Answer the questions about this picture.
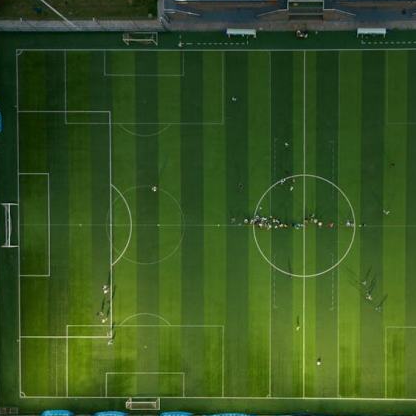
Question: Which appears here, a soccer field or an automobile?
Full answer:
Visible in the photo is a soccer field.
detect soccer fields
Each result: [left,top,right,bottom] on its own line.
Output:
[0,29,416,416]
[20,49,281,398]
[327,49,416,399]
